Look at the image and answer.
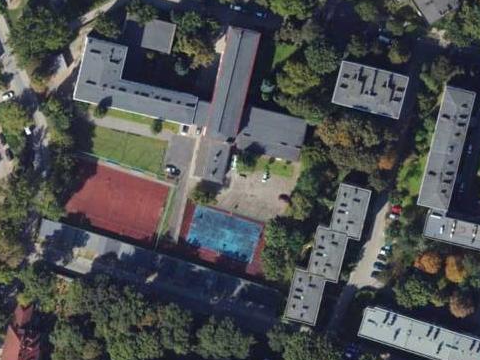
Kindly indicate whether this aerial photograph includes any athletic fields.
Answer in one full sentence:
Yes, an athletic field appears in the view.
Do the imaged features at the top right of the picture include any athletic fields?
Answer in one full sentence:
No, no athletic field can be made out at the top right of the picture.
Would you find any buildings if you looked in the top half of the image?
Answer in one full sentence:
Yes, there is a building in the top half of the image.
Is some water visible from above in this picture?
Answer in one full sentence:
No, no water is visible.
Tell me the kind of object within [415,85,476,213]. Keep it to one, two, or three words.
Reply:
building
